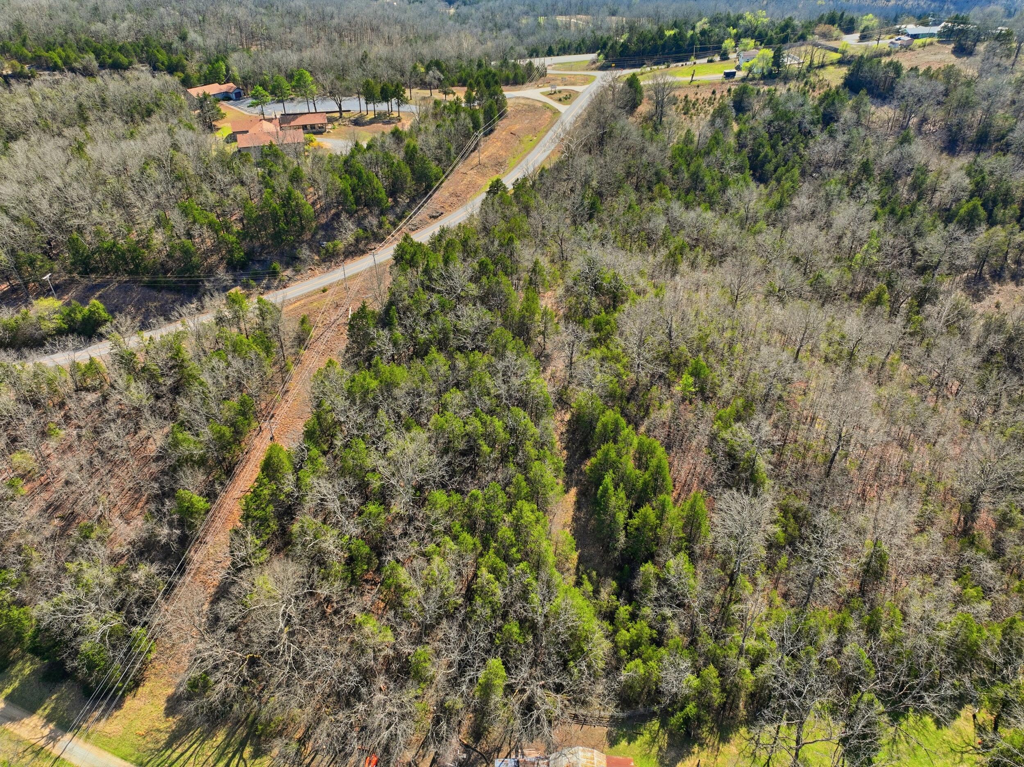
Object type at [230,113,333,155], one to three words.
building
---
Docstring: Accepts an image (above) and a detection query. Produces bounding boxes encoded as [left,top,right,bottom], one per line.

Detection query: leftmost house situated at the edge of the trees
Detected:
[190,83,249,101]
